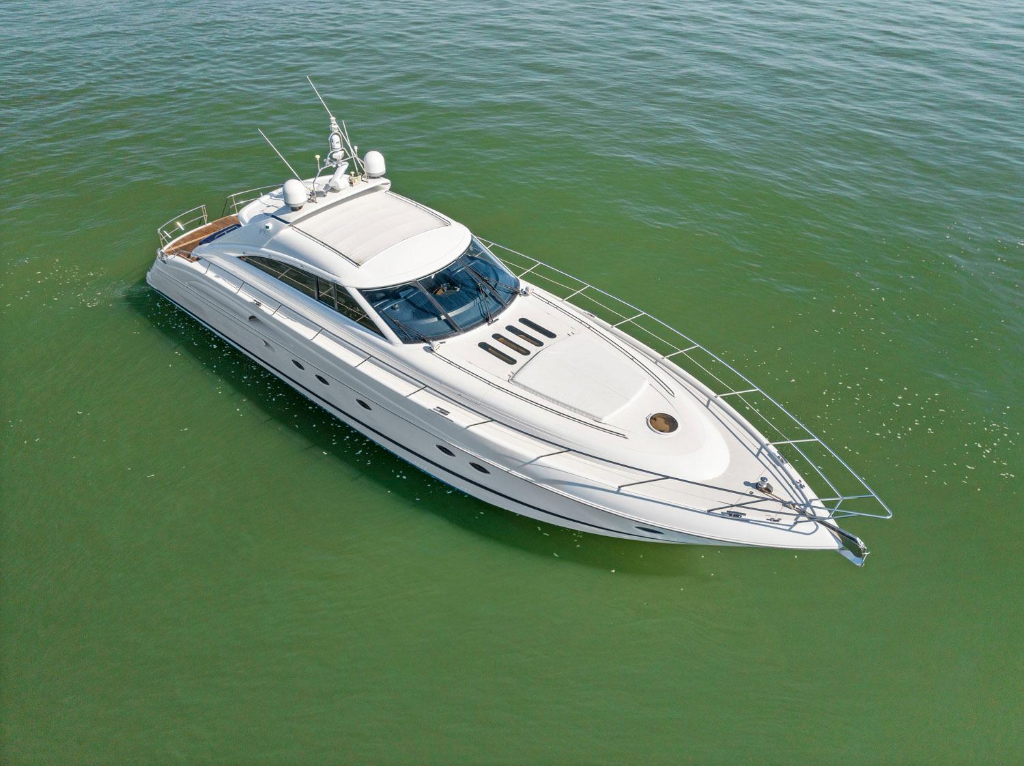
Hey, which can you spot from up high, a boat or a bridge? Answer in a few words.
boat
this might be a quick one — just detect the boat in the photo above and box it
[147,71,893,564]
